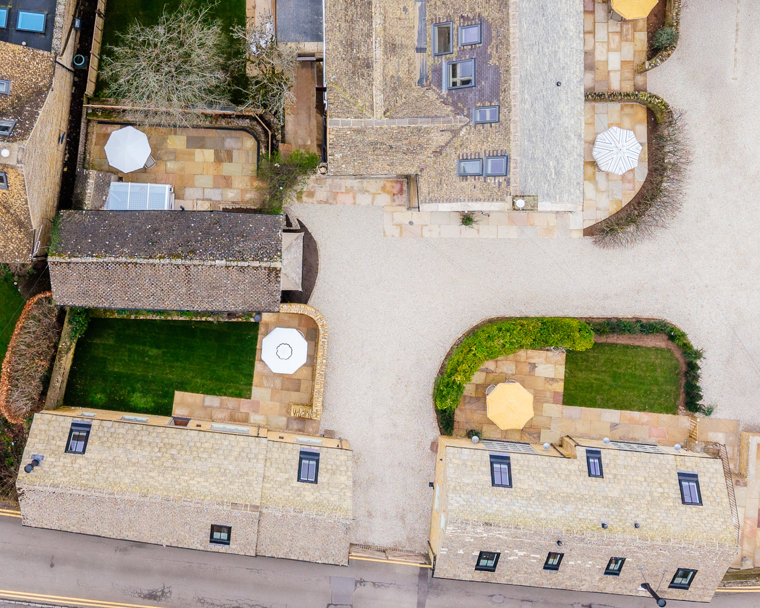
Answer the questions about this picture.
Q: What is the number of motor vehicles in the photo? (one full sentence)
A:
I count no motor vehicles.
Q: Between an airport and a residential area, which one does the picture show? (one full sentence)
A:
This looks like a residential area.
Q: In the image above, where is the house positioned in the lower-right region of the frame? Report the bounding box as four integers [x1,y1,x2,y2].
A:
[428,434,738,608]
